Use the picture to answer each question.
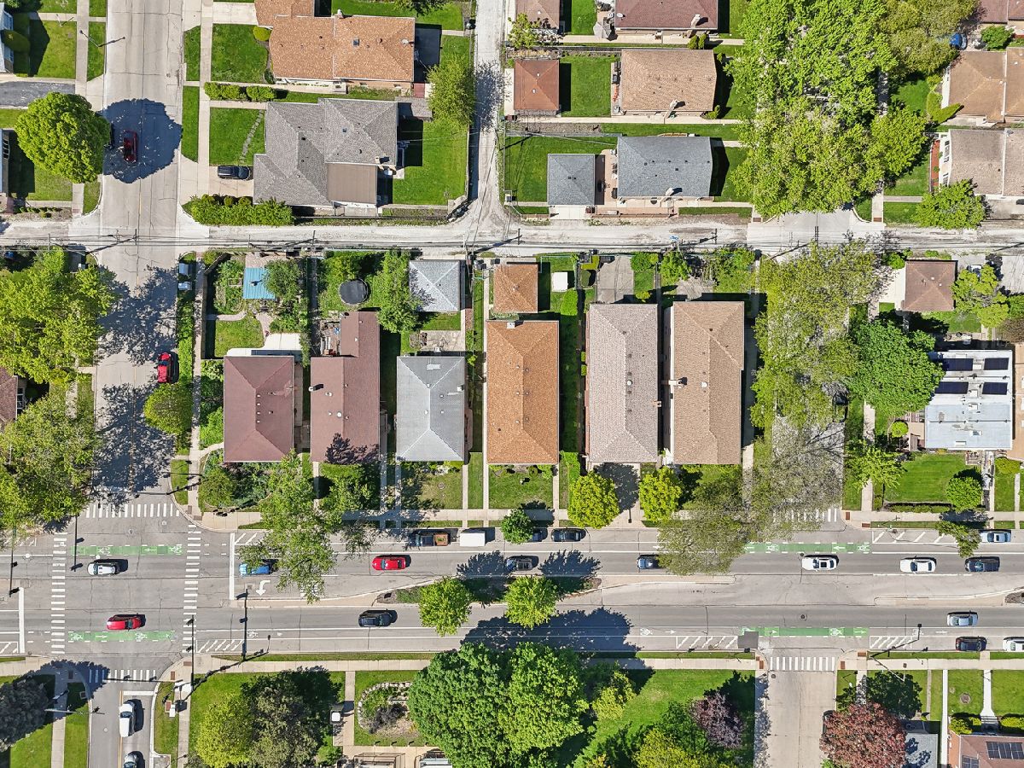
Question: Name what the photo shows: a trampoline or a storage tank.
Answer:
trampoline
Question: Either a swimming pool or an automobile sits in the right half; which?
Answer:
automobile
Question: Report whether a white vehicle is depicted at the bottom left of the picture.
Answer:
Yes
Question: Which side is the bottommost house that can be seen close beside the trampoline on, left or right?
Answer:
left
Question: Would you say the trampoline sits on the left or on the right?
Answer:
left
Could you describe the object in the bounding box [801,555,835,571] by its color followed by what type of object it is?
white car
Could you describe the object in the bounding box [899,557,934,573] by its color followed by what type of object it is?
white car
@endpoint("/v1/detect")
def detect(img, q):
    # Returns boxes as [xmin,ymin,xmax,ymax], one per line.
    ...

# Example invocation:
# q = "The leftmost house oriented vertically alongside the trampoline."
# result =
[310,310,383,464]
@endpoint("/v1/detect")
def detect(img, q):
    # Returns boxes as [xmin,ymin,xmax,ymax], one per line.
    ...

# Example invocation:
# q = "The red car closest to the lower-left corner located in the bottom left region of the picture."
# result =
[109,614,144,630]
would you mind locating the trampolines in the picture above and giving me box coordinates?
[339,278,369,308]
